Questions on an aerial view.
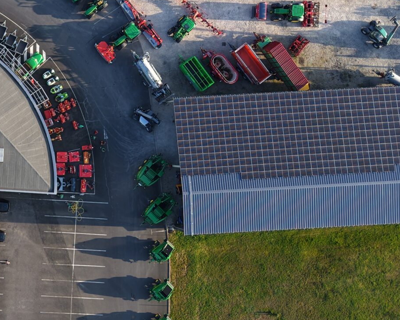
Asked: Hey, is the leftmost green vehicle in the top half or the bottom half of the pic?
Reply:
top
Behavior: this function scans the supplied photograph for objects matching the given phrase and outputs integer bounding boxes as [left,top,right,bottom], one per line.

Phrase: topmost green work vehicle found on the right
[266,2,306,22]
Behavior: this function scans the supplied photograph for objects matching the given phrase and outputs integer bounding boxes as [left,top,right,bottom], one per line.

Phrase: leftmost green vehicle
[19,55,42,77]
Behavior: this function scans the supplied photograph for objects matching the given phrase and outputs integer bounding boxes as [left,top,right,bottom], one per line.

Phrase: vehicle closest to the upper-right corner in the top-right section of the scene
[358,22,400,48]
